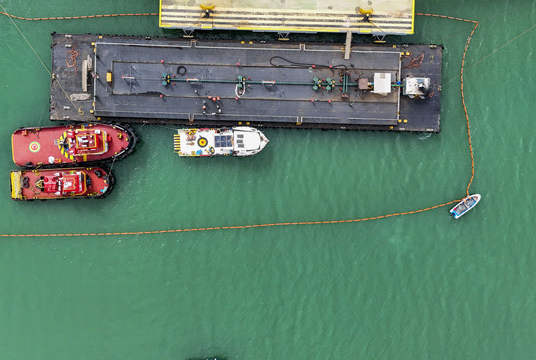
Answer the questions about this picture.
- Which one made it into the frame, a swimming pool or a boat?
boat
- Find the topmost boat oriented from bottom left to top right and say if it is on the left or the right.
right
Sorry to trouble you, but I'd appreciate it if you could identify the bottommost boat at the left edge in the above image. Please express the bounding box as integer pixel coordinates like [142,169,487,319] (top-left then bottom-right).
[11,164,118,202]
